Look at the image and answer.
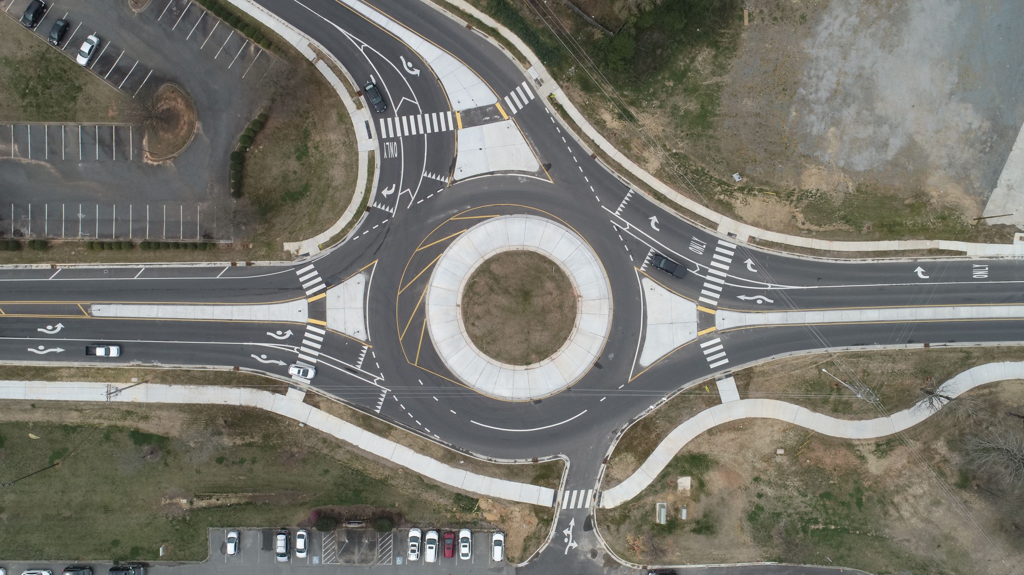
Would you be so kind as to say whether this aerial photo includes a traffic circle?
Yes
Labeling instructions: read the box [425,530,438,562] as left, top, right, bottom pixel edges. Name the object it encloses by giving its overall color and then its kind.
white vehicle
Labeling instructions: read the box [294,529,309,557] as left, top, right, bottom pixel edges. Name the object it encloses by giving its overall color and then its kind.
white car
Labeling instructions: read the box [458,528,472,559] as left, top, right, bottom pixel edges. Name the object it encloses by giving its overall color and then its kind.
white car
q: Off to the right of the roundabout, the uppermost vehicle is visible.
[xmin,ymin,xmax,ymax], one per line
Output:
[651,255,687,279]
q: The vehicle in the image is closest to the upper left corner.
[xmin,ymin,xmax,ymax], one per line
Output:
[21,0,46,28]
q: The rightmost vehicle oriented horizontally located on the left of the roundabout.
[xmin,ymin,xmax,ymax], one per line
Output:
[288,363,317,379]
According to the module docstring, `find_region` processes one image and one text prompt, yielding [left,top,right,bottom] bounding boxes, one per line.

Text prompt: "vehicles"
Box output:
[109,566,146,575]
[294,529,309,557]
[275,529,290,561]
[47,17,69,46]
[444,531,456,558]
[425,530,438,562]
[61,567,93,575]
[365,82,386,113]
[227,529,241,556]
[75,35,99,65]
[407,528,422,560]
[651,255,687,279]
[21,0,46,28]
[0,567,7,575]
[84,345,122,358]
[21,568,53,575]
[458,528,472,559]
[288,363,317,379]
[491,531,504,562]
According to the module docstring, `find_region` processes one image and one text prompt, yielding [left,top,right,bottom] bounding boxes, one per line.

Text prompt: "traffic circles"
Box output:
[401,190,637,426]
